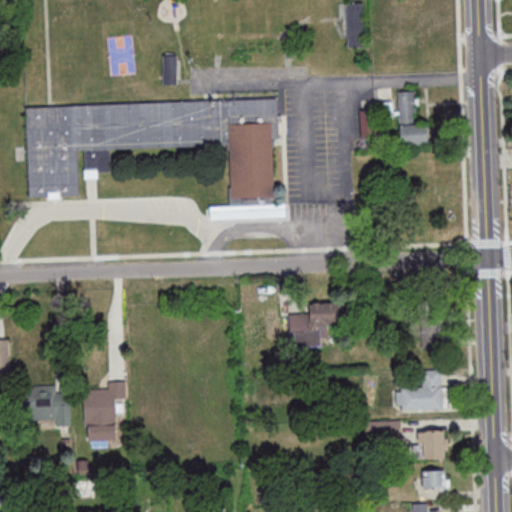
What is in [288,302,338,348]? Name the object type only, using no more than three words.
house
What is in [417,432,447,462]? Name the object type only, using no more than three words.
house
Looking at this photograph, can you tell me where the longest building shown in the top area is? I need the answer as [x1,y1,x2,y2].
[26,98,286,221]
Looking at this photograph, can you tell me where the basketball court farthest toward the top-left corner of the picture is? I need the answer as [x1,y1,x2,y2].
[107,36,136,78]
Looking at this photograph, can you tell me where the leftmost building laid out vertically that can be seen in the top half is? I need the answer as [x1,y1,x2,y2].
[162,56,177,85]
